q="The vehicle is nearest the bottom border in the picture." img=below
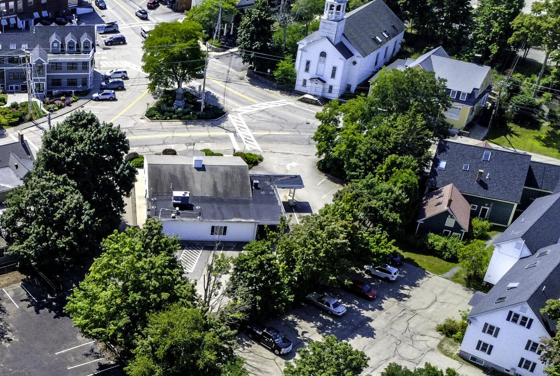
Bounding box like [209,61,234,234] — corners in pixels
[243,326,294,356]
